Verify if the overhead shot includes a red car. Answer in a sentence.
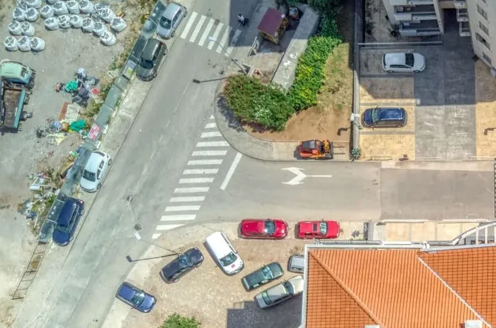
Yes, a red car can be made out from above.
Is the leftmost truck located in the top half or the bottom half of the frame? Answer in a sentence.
The top half of the photo is where the leftmost truck is.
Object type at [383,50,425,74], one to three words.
car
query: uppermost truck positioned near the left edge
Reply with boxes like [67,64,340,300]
[0,67,36,131]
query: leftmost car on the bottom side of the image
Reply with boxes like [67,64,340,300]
[53,200,88,245]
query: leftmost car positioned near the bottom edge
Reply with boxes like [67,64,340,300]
[112,279,160,314]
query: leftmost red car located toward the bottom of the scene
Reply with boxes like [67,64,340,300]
[240,217,289,239]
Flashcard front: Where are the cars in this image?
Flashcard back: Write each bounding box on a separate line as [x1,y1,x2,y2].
[254,275,302,311]
[363,105,407,127]
[285,252,303,272]
[202,230,243,276]
[135,39,169,80]
[157,3,190,38]
[81,151,113,190]
[383,50,425,74]
[112,279,160,314]
[157,245,207,285]
[297,219,341,239]
[240,217,289,239]
[239,263,286,293]
[53,200,88,245]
